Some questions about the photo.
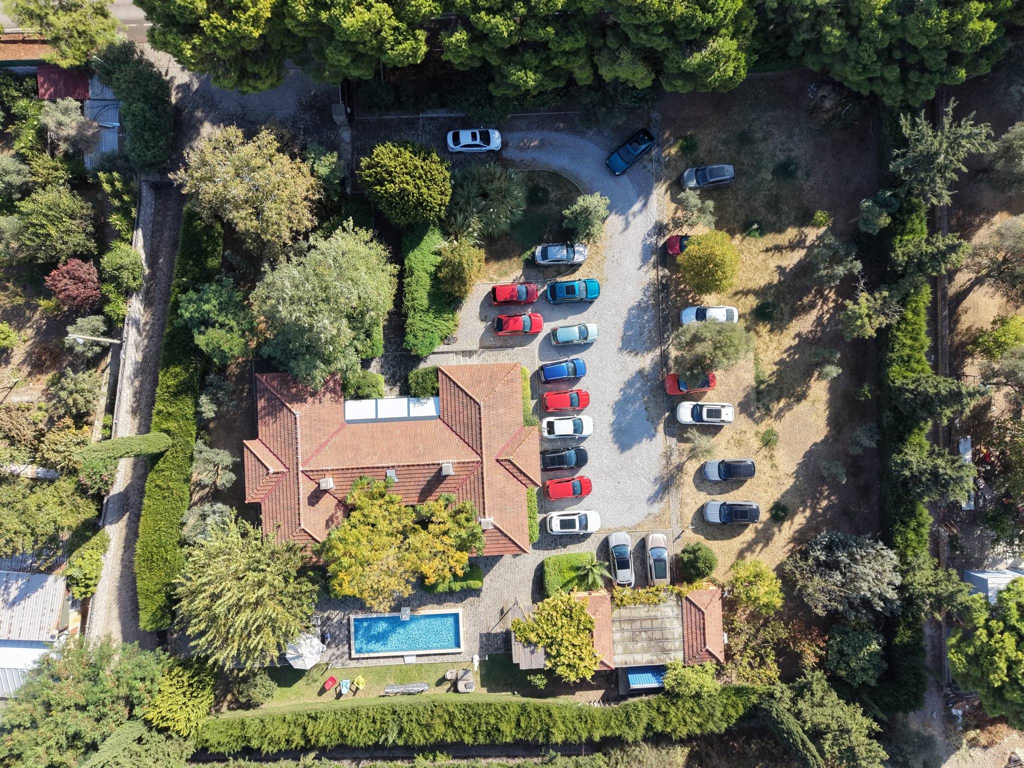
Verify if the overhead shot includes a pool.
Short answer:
Yes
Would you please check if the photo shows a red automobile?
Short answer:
Yes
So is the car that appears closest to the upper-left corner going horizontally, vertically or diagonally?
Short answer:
horizontally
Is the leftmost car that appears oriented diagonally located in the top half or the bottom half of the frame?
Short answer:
top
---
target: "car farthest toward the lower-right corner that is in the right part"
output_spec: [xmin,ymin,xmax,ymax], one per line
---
[701,500,759,528]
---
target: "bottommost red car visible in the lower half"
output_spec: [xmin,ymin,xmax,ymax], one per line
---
[545,475,592,501]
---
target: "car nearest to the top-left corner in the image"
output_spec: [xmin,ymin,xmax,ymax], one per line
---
[447,128,501,155]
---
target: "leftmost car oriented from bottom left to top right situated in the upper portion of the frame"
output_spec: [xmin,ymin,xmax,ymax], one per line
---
[605,129,655,179]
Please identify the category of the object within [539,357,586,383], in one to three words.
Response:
car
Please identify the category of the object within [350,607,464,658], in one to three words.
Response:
swimming pool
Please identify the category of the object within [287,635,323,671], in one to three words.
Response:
umbrella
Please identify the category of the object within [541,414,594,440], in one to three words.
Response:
car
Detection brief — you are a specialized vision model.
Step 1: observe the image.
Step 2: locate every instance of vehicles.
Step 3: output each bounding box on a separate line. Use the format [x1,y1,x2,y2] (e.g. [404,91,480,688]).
[542,387,590,413]
[447,128,501,155]
[550,320,598,346]
[680,302,737,328]
[547,277,600,304]
[540,444,591,471]
[644,530,670,585]
[608,529,636,586]
[675,400,734,428]
[605,129,655,179]
[491,281,538,307]
[700,457,756,485]
[666,233,695,259]
[535,241,587,267]
[547,509,600,536]
[545,475,592,501]
[539,357,586,383]
[701,500,759,528]
[494,311,543,337]
[541,414,594,440]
